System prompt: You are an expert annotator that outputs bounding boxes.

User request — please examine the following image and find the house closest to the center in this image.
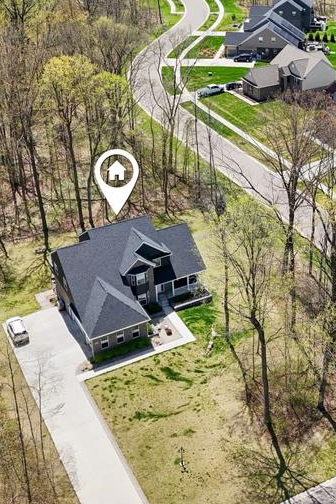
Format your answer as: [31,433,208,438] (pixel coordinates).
[43,211,205,356]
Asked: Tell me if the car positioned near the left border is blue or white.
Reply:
white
